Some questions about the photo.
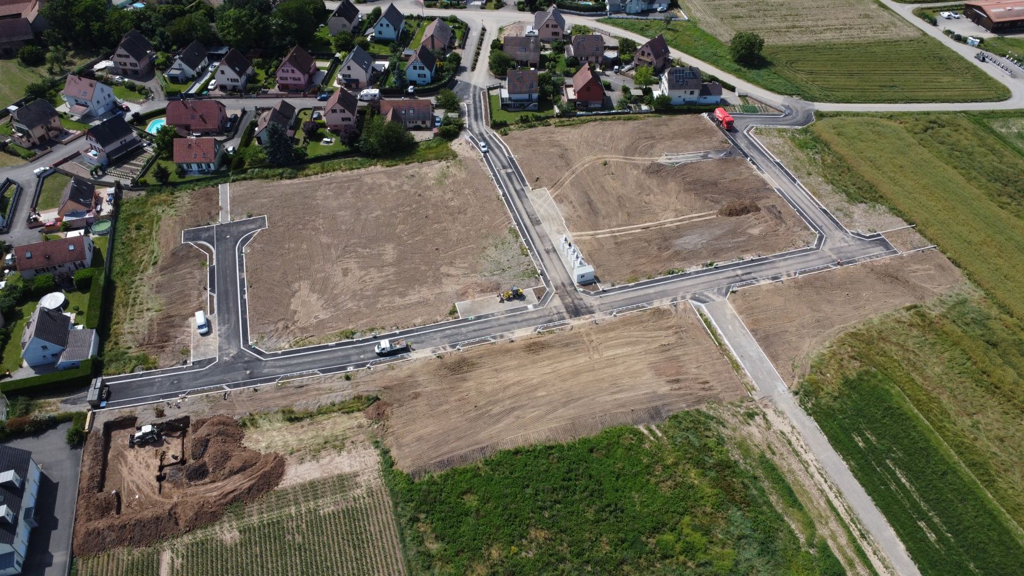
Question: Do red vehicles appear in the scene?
Yes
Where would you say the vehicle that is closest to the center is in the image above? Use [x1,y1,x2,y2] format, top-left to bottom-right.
[498,286,529,303]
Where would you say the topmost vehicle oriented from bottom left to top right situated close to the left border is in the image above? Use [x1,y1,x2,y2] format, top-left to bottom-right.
[29,161,51,177]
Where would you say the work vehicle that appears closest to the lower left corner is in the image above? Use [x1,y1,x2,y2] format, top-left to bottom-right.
[126,425,186,451]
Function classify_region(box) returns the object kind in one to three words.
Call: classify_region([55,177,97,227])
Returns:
house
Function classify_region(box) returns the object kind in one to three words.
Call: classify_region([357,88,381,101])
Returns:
vehicle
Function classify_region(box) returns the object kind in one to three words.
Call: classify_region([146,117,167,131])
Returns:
swimming pool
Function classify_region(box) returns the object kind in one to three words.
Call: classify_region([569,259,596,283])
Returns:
building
